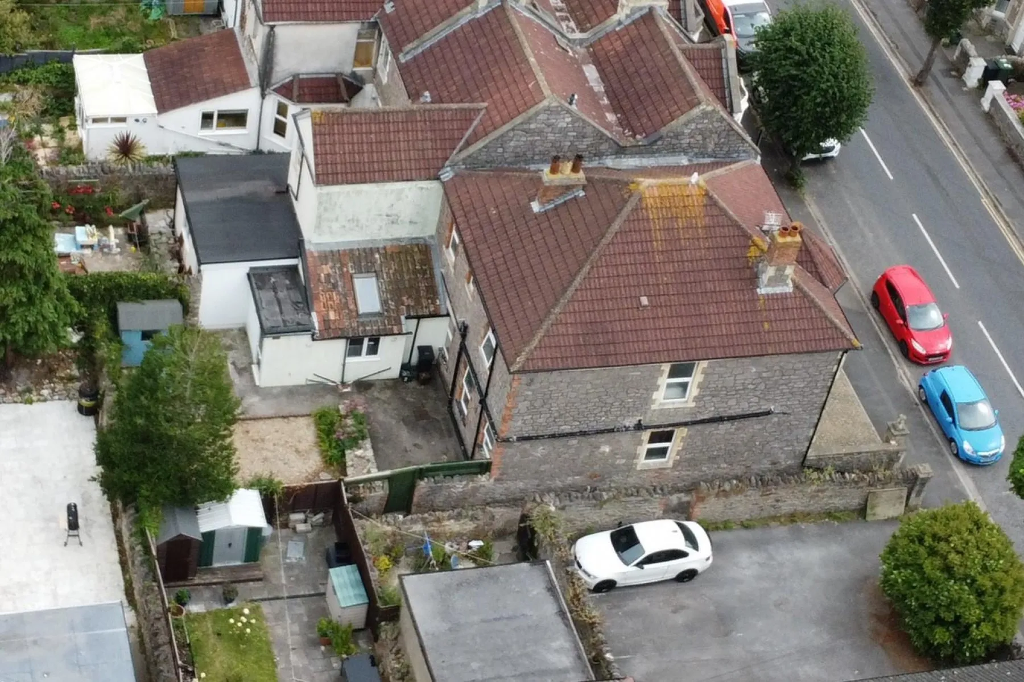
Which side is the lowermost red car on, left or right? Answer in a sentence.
The lowermost red car sits on the right side.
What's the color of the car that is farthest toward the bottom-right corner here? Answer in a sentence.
The car that is farthest toward the bottom-right corner is blue.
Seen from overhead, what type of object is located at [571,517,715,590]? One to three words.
car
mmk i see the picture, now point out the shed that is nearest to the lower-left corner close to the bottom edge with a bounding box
[0,598,139,682]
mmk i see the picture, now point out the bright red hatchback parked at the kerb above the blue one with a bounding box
[874,273,958,365]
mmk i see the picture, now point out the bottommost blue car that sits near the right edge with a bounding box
[920,364,1011,466]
